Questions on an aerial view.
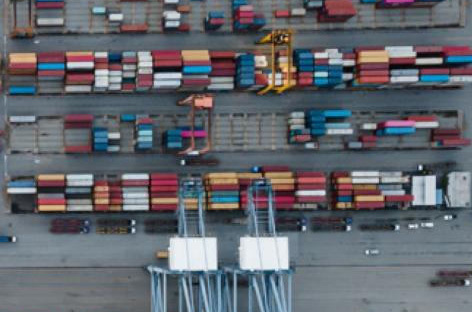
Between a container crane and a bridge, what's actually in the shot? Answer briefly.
container crane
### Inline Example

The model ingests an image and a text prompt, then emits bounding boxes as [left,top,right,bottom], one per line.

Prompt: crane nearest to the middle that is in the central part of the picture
[175,95,214,156]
